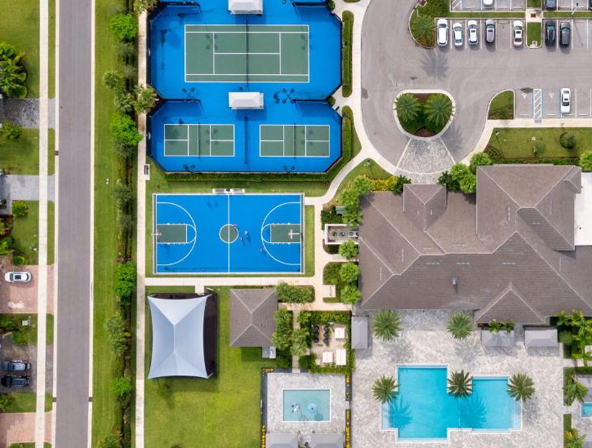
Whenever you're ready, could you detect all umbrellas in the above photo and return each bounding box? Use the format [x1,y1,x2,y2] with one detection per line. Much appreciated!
[323,351,333,362]
[336,349,346,365]
[335,327,345,338]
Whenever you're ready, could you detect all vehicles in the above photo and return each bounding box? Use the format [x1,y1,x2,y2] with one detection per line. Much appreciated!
[482,0,493,9]
[5,271,34,283]
[2,374,32,387]
[544,18,557,47]
[468,21,478,46]
[513,20,525,47]
[559,21,571,48]
[559,87,572,114]
[545,0,557,10]
[484,18,496,45]
[4,359,33,372]
[436,18,449,47]
[453,22,464,48]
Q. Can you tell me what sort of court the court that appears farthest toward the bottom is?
basketball court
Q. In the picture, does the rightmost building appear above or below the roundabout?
below it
